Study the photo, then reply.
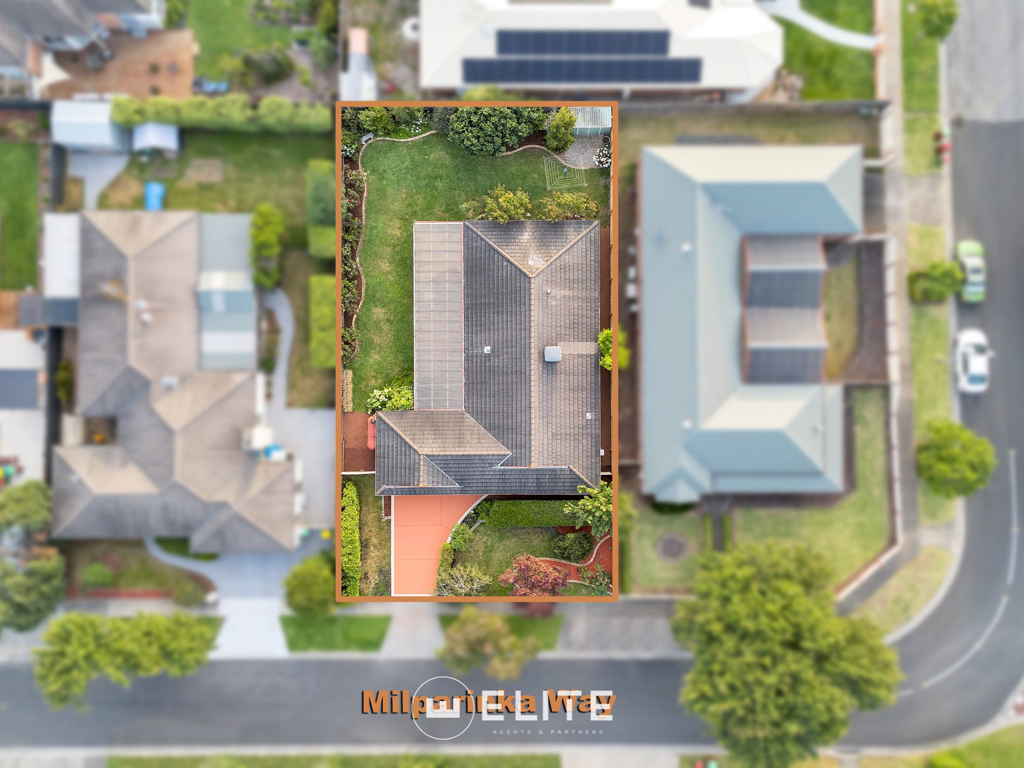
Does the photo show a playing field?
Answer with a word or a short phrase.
No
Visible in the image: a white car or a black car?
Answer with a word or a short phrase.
white car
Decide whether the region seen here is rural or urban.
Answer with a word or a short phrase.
urban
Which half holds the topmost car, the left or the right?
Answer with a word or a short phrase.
right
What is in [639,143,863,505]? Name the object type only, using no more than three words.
house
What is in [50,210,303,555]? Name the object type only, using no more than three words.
house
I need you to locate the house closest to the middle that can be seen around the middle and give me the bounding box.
[374,218,602,496]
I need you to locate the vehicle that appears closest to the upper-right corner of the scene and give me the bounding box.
[959,241,992,301]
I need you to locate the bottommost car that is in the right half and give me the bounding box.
[959,331,994,392]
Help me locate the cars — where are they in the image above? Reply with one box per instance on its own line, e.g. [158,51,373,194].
[959,331,994,392]
[959,241,992,301]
